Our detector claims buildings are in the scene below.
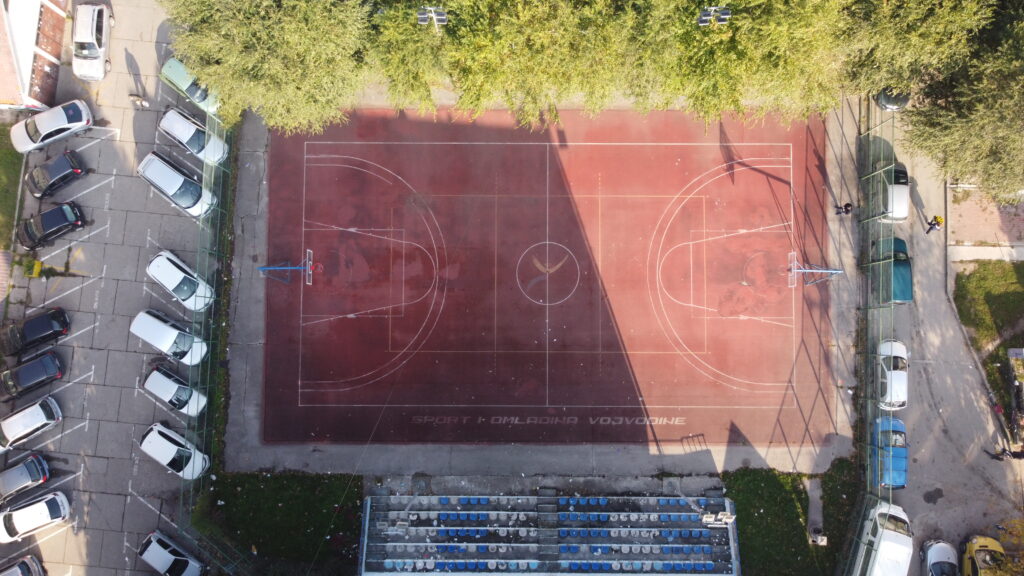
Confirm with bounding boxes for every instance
[0,0,68,125]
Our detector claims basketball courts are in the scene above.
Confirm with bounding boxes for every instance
[261,109,837,448]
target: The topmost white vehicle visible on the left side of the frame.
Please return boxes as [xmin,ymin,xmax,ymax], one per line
[71,11,115,84]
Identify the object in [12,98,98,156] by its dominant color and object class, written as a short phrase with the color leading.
white car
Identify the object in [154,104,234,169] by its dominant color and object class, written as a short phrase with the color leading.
white car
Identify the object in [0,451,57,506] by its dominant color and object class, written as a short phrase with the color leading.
gray car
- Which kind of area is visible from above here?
sports ground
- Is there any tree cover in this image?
Yes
